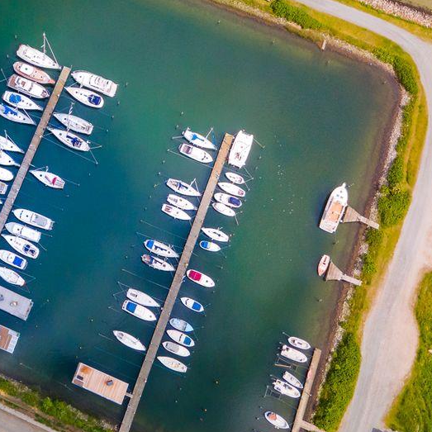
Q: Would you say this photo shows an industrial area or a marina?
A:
marina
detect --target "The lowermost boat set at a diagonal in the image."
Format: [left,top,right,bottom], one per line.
[262,409,289,430]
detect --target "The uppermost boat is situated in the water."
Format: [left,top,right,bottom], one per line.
[9,33,60,69]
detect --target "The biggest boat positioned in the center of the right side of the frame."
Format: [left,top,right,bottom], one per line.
[319,181,348,235]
